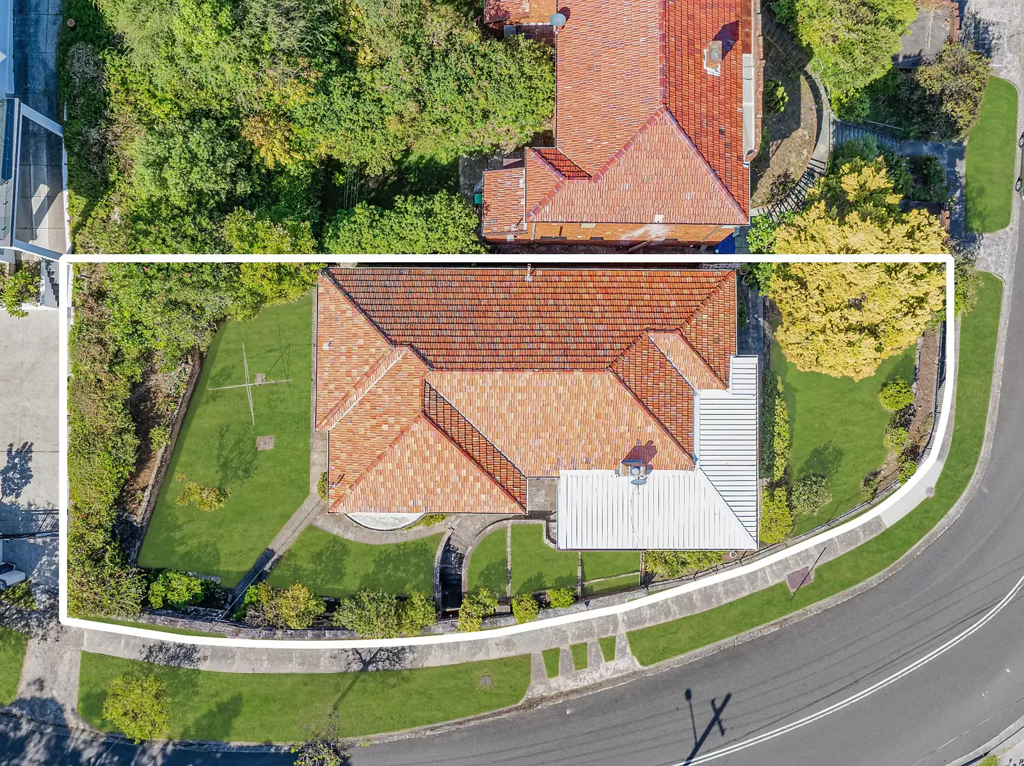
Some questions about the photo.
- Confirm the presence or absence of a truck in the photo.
No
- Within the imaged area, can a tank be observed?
No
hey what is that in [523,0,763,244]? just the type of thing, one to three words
house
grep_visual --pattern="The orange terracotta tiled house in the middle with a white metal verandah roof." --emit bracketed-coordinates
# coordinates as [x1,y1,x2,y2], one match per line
[313,265,760,552]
